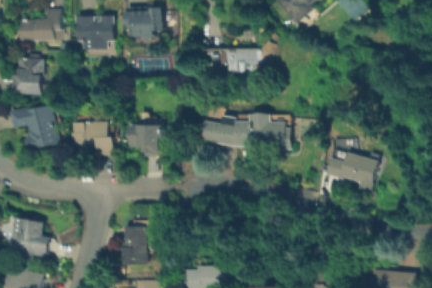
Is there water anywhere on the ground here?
No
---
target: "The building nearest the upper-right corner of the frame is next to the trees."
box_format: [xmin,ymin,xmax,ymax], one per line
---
[339,0,370,22]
